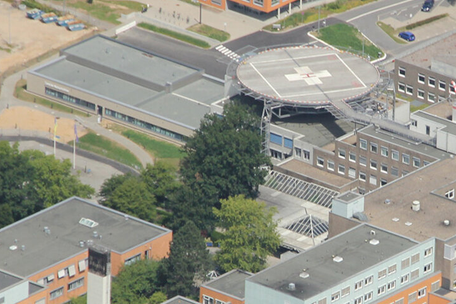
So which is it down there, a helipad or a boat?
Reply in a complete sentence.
The image shows a helipad.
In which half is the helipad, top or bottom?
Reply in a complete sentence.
Seen from above, the helipad lies in the top half of the view.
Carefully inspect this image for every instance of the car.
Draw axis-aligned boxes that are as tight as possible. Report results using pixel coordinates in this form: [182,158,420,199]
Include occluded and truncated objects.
[422,0,434,9]
[398,30,416,39]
